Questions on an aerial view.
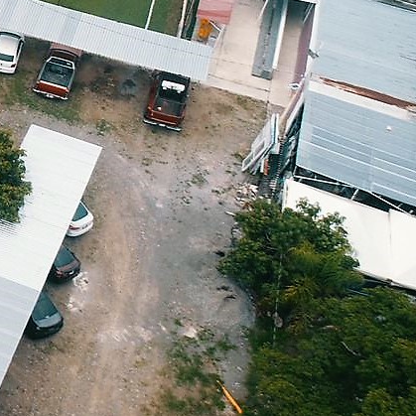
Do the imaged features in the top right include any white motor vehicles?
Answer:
No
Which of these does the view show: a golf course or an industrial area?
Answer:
industrial area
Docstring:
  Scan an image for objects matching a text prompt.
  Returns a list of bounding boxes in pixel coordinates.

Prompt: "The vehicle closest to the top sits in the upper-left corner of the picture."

[0,28,29,72]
